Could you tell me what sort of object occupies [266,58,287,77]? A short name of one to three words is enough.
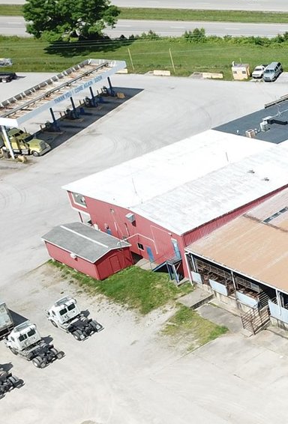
vehicle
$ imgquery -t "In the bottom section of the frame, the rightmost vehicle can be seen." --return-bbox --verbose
[44,294,104,342]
